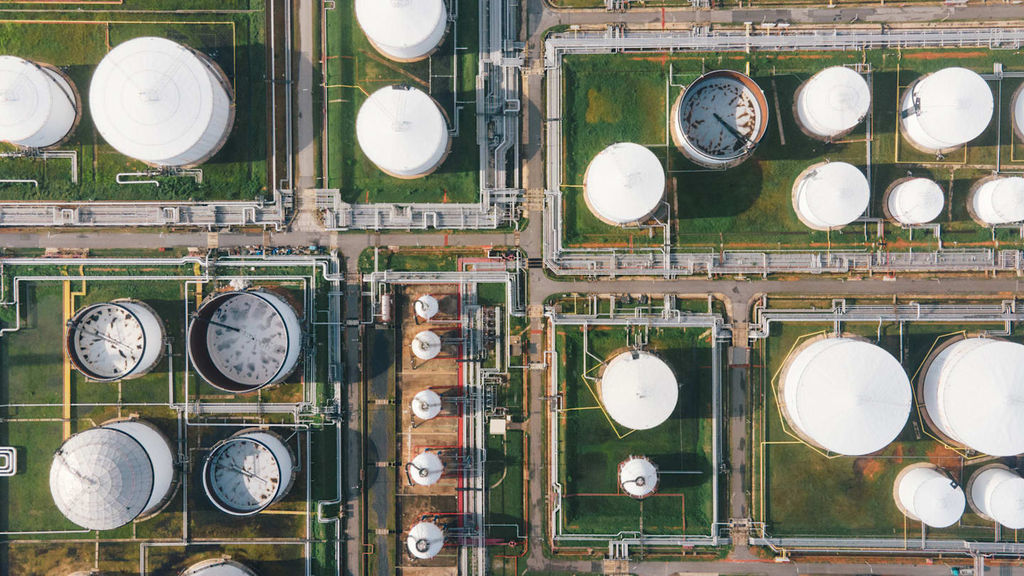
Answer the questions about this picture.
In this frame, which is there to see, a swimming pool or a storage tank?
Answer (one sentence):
The one in the frame is a storage tank.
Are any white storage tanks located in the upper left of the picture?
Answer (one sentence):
Yes, there is a white storage tank in the upper left of the picture.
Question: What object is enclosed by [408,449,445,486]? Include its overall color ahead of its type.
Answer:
white storage tank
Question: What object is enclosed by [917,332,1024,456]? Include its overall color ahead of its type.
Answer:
white storage tank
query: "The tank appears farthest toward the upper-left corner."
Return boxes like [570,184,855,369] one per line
[0,54,81,155]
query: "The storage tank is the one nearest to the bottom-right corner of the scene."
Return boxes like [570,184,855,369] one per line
[965,464,1024,530]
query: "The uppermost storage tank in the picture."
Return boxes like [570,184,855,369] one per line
[354,0,451,62]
